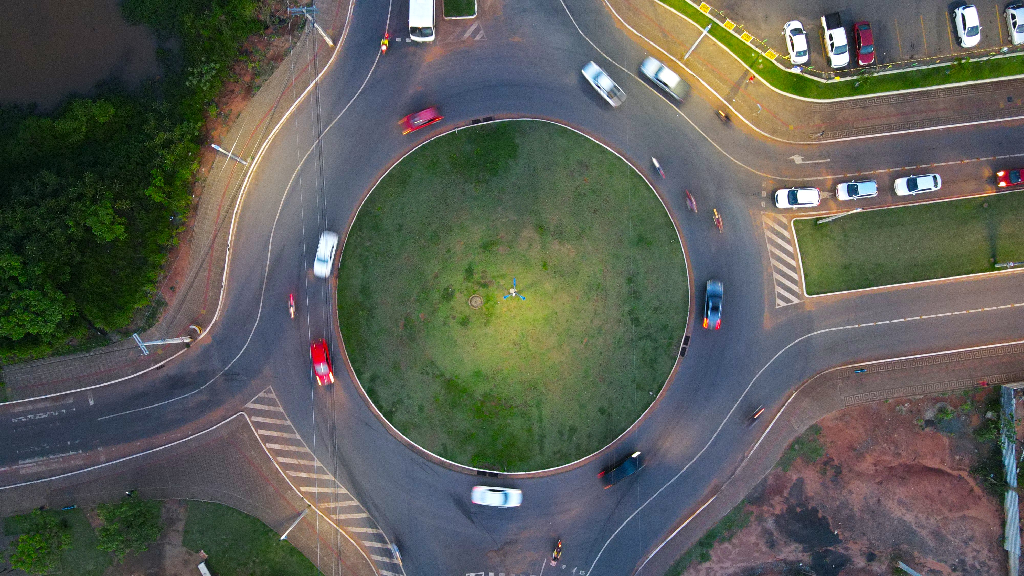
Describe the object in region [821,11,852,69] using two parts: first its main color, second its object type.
white vehicle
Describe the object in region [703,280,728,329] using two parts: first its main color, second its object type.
blue car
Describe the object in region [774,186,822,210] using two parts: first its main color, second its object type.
white car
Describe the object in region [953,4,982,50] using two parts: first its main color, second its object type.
white car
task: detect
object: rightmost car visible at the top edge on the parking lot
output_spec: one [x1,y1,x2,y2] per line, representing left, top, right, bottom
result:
[1000,2,1024,48]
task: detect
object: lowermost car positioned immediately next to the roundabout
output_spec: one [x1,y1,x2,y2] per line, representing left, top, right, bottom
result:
[472,485,521,509]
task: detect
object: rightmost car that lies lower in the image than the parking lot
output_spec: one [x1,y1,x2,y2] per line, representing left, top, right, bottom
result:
[994,165,1024,187]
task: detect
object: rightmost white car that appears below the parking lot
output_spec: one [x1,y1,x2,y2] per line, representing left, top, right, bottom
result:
[892,173,943,197]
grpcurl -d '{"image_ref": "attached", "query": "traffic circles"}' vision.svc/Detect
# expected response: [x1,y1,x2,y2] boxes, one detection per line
[329,112,697,480]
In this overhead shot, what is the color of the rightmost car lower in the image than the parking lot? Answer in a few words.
red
